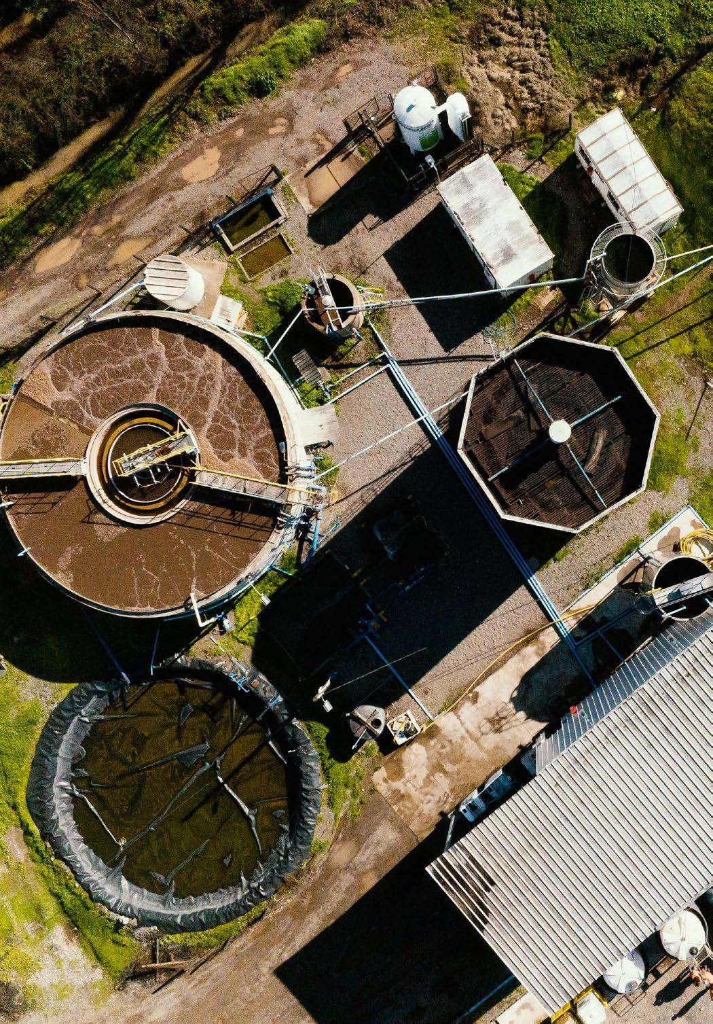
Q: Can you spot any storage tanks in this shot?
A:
Yes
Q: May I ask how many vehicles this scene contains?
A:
two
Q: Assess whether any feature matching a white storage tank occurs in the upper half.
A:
Yes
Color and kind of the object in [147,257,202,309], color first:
white storage tank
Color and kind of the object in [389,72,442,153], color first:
white storage tank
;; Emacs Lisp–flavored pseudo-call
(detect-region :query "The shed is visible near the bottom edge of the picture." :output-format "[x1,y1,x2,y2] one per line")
[426,631,713,1020]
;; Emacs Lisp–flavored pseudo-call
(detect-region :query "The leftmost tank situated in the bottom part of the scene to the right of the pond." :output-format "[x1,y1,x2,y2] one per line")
[347,701,388,749]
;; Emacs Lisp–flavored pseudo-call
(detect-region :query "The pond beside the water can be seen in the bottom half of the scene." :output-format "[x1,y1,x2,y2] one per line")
[26,655,320,933]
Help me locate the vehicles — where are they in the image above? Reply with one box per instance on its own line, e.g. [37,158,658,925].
[518,745,538,779]
[455,770,523,834]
